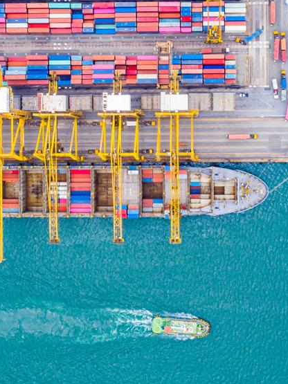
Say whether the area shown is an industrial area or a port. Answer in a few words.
port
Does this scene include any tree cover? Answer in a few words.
No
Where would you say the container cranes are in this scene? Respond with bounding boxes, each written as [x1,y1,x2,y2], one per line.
[33,75,86,244]
[153,42,176,91]
[206,0,228,45]
[149,75,197,244]
[0,64,32,262]
[97,75,145,244]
